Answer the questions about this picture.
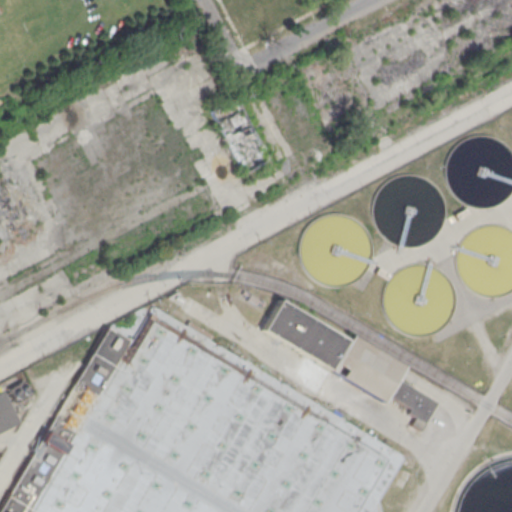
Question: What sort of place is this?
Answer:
industrial area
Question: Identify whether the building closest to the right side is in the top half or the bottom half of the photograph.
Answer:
bottom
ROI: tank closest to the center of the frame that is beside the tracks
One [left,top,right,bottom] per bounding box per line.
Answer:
[297,212,378,288]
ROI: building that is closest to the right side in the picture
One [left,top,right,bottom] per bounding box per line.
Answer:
[394,384,440,430]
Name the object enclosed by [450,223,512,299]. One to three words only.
storage tank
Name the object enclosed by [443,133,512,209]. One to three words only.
storage tank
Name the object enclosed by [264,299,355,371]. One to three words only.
building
